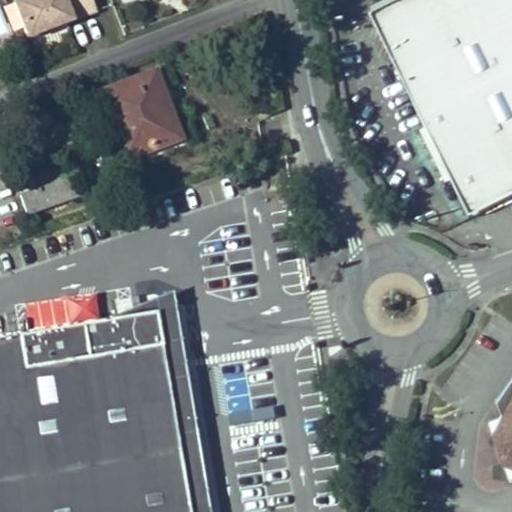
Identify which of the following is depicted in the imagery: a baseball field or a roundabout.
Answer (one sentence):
Of the two, only a roundabout appears.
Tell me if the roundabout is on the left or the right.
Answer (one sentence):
The roundabout appears in the right half of the scene.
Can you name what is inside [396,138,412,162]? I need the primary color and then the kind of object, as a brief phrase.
white car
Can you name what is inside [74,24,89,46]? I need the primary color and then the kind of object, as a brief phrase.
white car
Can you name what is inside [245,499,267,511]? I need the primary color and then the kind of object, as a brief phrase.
white vehicle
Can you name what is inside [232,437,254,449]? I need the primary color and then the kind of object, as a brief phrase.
white vehicle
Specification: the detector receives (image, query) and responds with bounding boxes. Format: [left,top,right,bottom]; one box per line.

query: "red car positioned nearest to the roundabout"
[478,334,500,351]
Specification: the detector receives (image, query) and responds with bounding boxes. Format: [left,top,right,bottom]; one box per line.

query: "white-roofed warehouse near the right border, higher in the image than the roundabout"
[368,0,512,215]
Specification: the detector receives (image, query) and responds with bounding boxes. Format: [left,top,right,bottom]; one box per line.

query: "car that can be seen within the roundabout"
[425,274,440,296]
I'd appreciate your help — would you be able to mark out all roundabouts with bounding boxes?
[334,241,460,367]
